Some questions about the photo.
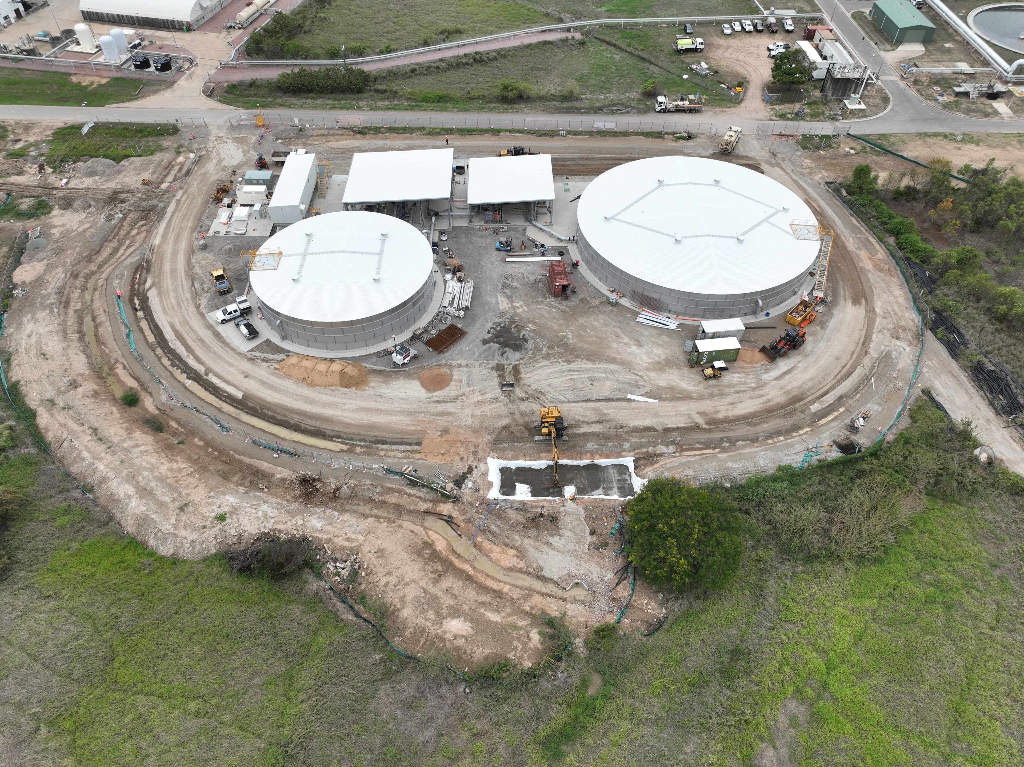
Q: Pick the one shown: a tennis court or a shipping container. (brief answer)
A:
shipping container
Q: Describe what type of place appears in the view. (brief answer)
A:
industrial area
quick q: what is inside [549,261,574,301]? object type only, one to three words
shipping container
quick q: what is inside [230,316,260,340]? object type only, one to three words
truck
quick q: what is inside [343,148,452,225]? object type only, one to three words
shed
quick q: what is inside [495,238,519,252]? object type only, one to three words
work vehicle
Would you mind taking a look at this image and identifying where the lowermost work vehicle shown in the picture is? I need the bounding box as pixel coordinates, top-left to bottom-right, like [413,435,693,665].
[534,403,571,486]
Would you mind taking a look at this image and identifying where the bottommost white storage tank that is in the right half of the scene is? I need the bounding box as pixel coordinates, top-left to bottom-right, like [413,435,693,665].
[567,150,834,326]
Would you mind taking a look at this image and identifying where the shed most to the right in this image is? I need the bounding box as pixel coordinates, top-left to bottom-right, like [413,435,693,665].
[867,0,937,46]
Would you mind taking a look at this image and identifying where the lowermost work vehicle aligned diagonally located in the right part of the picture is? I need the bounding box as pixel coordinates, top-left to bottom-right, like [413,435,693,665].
[764,327,811,361]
